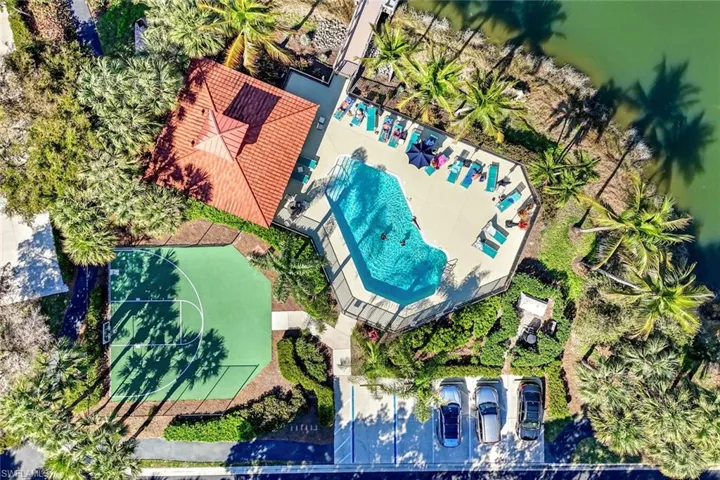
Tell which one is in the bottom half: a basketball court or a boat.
basketball court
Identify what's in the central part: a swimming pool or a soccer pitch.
swimming pool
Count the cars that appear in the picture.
3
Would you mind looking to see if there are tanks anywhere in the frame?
No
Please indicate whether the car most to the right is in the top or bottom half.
bottom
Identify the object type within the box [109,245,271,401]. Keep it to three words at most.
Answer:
basketball court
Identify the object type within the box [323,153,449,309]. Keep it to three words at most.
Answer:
swimming pool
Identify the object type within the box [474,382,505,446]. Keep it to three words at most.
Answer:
car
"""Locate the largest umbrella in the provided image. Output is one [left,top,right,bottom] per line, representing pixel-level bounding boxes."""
[406,139,436,170]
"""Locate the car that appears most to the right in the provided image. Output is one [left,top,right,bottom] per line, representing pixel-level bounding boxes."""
[514,378,547,440]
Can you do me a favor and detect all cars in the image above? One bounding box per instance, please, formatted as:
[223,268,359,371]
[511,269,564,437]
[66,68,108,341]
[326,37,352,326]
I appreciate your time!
[436,382,466,448]
[514,378,547,440]
[474,382,505,446]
